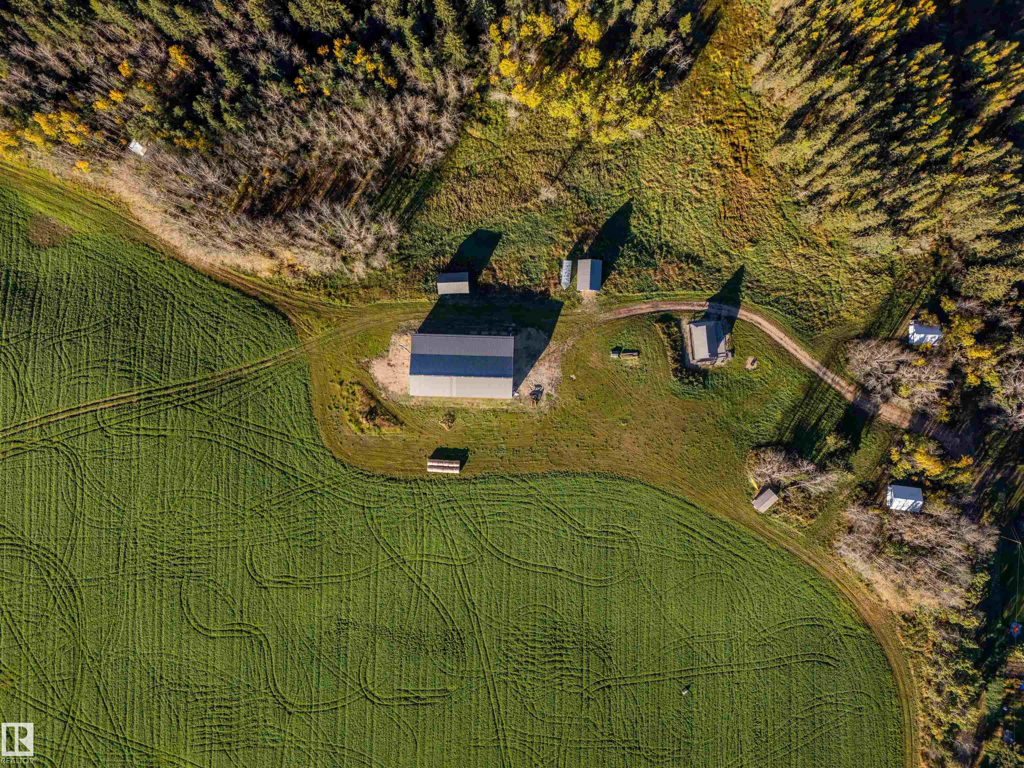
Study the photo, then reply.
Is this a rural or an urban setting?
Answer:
rural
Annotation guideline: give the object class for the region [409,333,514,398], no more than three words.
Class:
barn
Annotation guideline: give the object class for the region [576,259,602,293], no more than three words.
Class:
shed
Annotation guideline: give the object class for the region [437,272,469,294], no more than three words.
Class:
shed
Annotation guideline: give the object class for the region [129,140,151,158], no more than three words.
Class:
camper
